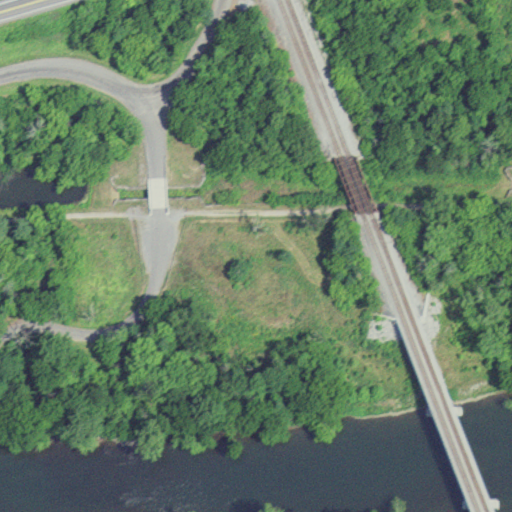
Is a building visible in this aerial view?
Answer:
No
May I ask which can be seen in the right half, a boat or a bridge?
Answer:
bridge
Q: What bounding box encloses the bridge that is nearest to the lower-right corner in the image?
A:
[371,292,500,512]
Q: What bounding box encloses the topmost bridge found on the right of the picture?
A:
[324,155,386,216]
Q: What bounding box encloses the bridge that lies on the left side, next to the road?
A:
[146,177,170,212]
